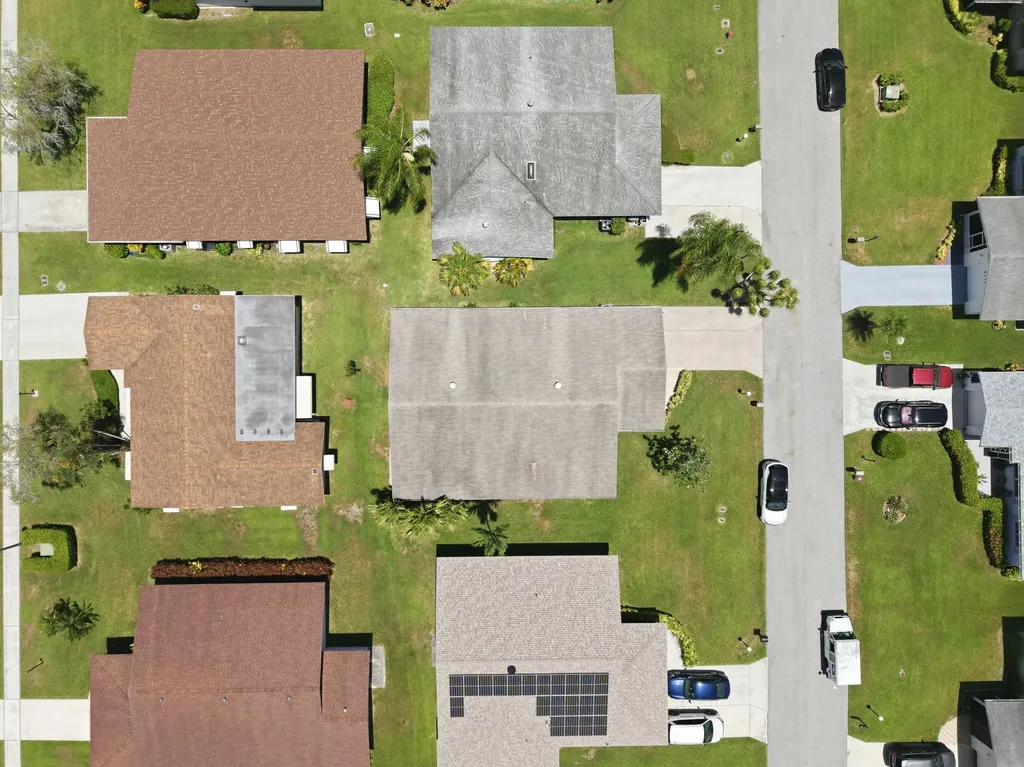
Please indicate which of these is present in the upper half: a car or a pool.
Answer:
car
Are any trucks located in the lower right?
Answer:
Yes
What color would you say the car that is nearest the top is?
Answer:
black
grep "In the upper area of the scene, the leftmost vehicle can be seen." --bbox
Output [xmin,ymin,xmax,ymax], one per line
[814,48,849,114]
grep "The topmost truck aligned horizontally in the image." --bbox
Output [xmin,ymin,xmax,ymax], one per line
[873,359,952,393]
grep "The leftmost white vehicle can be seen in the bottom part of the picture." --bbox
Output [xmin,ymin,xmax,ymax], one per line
[667,712,724,747]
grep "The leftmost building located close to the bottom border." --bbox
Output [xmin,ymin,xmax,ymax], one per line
[90,580,370,767]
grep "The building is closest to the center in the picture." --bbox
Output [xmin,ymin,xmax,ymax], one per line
[387,307,666,500]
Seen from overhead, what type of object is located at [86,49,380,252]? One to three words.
house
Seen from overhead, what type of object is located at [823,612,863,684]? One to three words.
truck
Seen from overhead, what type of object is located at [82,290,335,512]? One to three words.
house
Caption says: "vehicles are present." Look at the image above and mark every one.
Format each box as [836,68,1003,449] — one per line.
[814,48,849,114]
[823,612,863,684]
[873,359,952,393]
[880,741,956,767]
[667,712,724,747]
[871,399,947,431]
[757,461,791,525]
[667,669,730,702]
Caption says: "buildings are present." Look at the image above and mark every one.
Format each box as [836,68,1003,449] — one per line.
[387,307,666,500]
[971,628,1024,767]
[961,0,1024,89]
[90,580,370,767]
[428,27,662,260]
[965,371,1024,579]
[434,554,669,767]
[86,49,380,252]
[82,290,335,512]
[964,142,1024,326]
